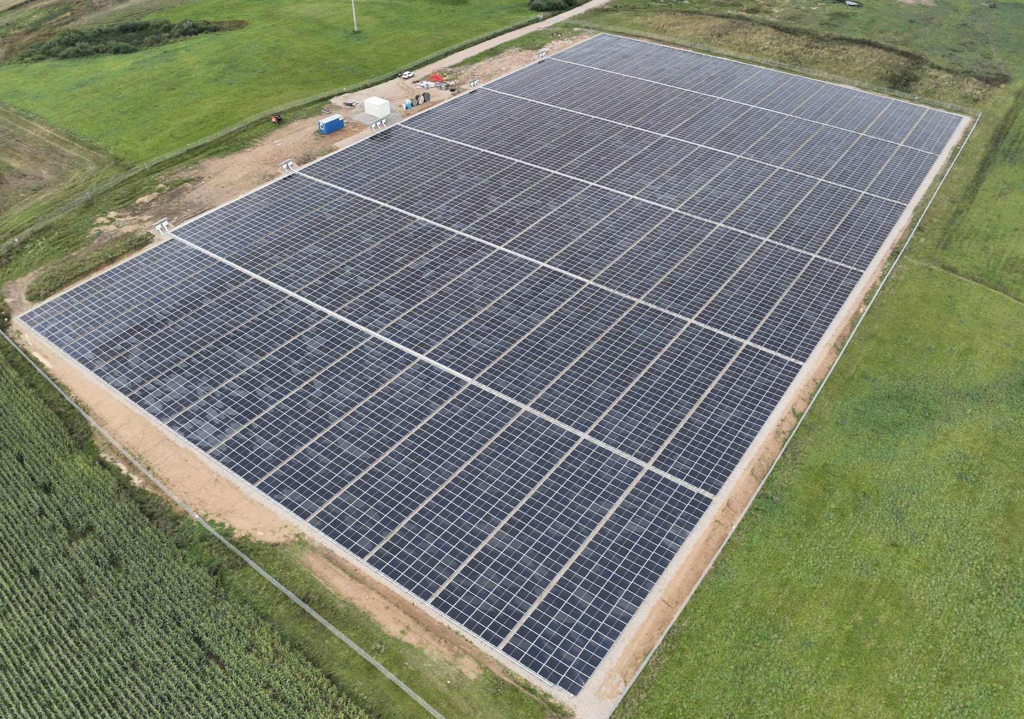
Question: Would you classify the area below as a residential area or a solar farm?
solar farm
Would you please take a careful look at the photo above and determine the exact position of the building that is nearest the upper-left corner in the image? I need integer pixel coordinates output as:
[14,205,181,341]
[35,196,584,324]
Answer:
[363,97,390,118]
